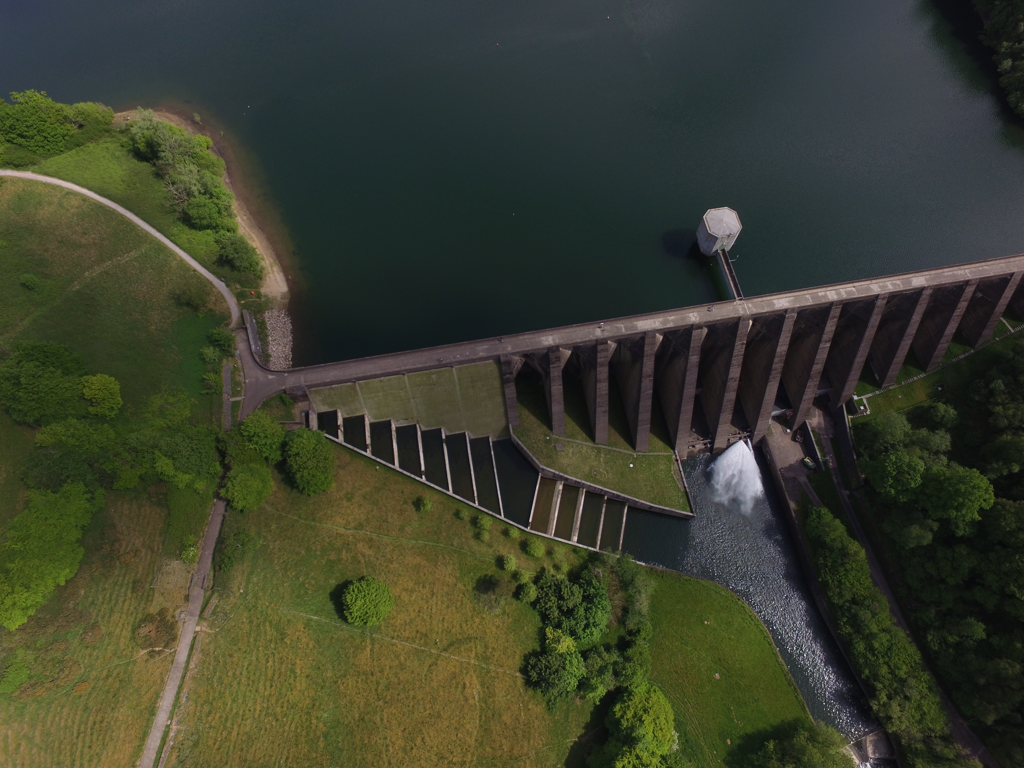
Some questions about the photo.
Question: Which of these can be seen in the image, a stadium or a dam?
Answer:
dam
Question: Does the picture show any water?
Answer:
Yes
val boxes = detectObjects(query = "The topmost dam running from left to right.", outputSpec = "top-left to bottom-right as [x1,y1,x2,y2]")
[270,254,1024,463]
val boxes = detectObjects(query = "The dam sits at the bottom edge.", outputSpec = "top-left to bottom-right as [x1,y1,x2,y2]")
[844,729,894,768]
